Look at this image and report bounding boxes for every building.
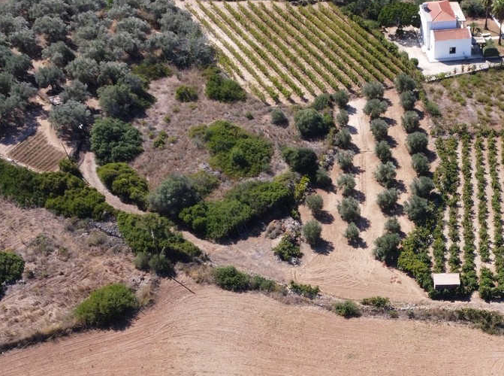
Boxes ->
[432,268,462,290]
[411,0,475,59]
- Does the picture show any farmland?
Yes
